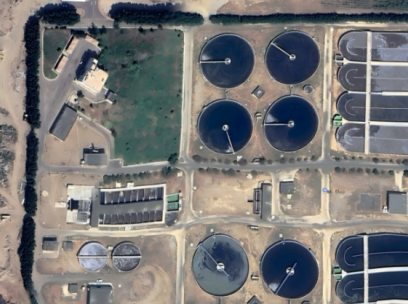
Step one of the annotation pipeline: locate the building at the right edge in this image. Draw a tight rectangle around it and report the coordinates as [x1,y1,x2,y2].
[388,194,408,214]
